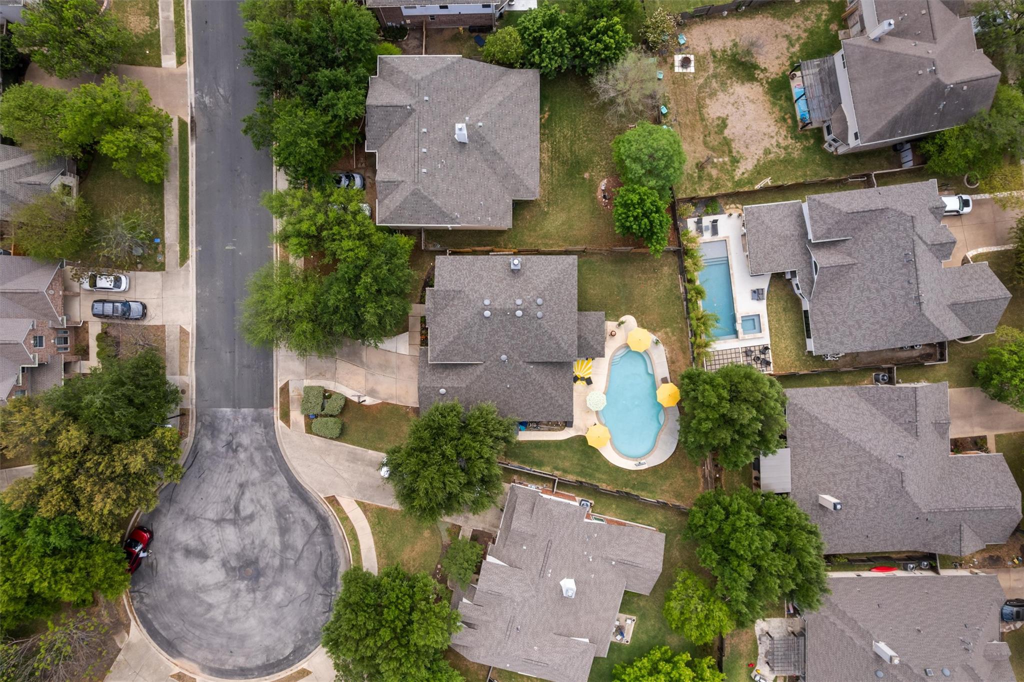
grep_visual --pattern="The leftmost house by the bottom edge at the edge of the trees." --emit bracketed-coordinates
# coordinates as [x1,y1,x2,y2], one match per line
[449,482,670,682]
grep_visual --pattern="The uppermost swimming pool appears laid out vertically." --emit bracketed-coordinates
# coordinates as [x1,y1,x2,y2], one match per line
[795,87,810,124]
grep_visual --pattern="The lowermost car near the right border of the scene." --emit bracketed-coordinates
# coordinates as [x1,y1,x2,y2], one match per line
[997,597,1024,623]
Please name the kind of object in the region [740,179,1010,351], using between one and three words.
house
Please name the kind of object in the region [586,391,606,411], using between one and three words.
umbrella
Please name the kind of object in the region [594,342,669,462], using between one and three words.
swimming pool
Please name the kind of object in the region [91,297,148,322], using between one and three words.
car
